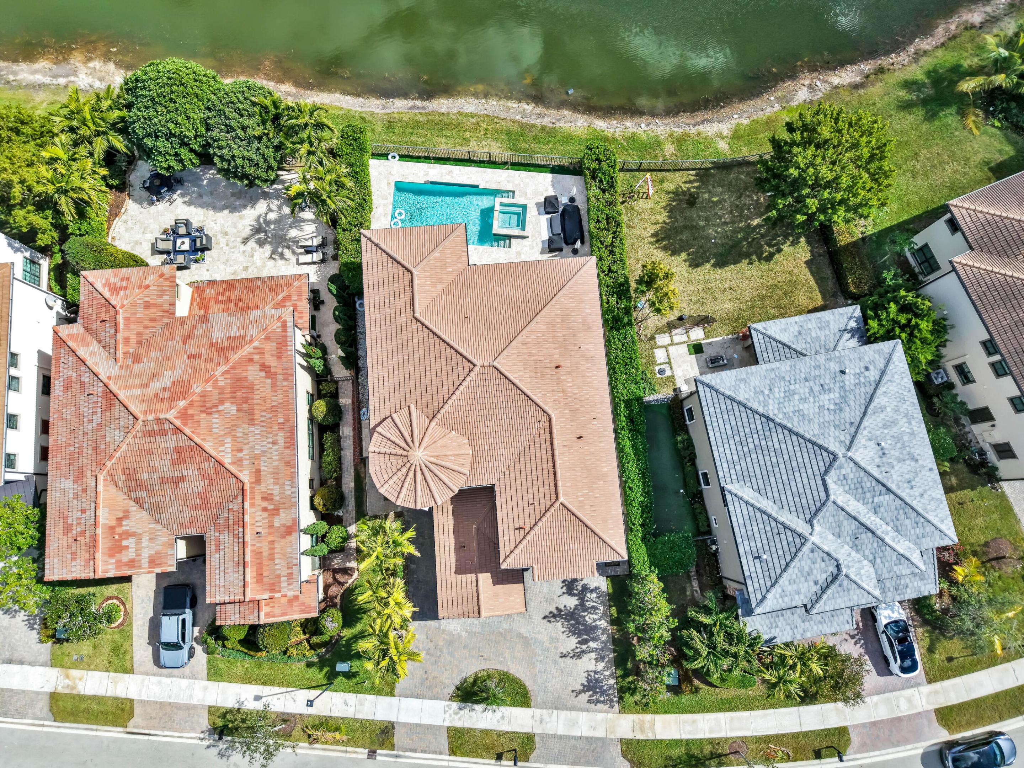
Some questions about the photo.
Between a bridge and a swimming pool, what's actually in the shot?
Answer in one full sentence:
The one in the frame is a swimming pool.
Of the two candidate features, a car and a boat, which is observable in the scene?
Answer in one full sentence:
Looking from above, you can make out a car.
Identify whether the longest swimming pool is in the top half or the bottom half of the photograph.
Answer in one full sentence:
Seen from above, the longest swimming pool lies in the top half of the view.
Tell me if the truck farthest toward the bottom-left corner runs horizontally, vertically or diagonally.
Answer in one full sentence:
I'd say the truck farthest toward the bottom-left corner is aligned vertically in the picture.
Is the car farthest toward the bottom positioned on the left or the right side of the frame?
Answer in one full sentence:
The car farthest toward the bottom is on the right side of the image.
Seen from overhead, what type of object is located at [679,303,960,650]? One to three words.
house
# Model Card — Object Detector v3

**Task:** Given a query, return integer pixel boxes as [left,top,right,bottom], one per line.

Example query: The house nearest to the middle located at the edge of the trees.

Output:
[359,221,628,618]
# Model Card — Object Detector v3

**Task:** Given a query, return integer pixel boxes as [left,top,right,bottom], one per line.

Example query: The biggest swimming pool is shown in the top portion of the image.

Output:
[386,177,515,251]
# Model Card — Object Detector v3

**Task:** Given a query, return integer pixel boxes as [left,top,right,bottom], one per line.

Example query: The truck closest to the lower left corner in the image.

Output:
[155,583,199,669]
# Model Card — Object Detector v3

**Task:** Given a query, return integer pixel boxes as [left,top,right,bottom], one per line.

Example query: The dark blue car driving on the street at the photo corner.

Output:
[935,733,1020,768]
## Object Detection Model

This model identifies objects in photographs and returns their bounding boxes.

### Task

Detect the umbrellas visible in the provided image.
[568,185,578,205]
[570,239,581,256]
